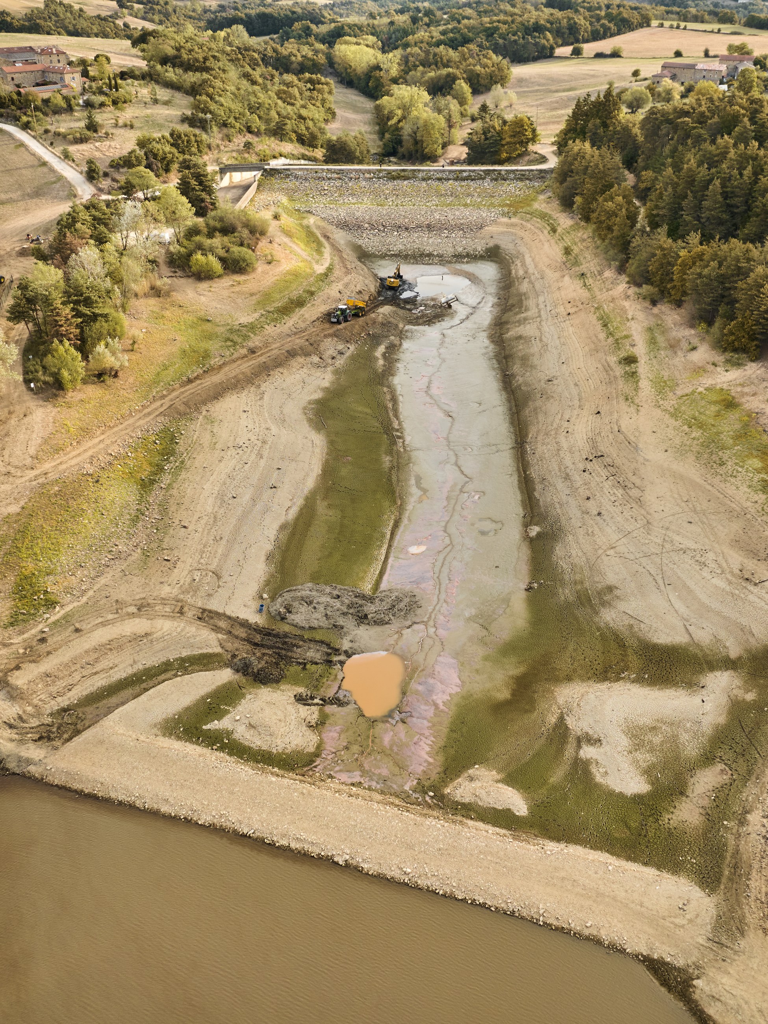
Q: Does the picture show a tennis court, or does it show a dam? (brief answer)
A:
dam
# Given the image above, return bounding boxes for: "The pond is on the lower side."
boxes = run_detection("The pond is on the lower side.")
[343,653,404,718]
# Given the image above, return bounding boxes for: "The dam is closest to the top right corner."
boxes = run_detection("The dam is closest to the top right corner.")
[240,165,563,263]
